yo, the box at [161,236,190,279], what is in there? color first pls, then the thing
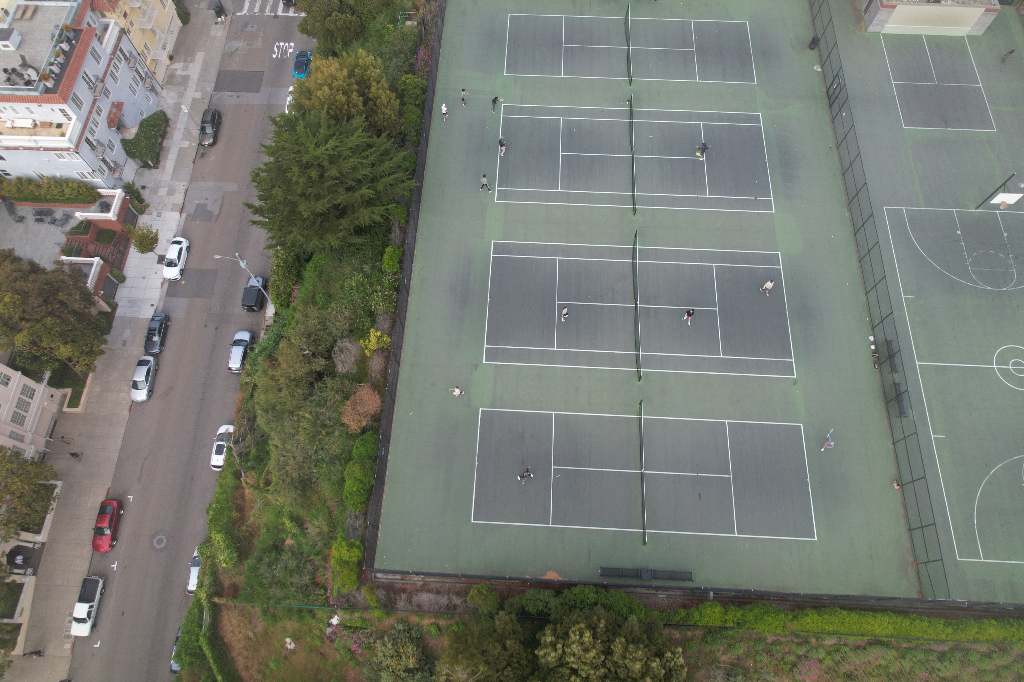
white car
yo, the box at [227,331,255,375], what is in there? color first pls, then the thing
white car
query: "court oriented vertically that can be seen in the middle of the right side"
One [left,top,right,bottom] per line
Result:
[884,207,1024,564]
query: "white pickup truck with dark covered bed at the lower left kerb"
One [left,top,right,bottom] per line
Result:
[68,575,107,639]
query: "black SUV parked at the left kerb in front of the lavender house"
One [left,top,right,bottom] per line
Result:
[194,108,221,147]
